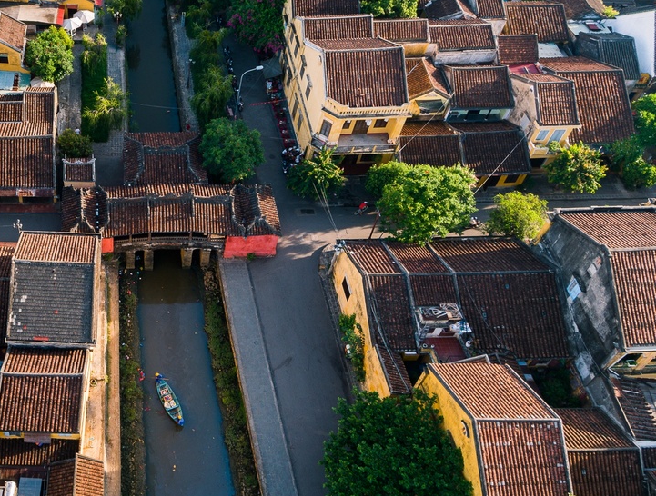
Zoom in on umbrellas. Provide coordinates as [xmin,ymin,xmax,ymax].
[61,22,82,41]
[31,80,54,86]
[73,13,95,31]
